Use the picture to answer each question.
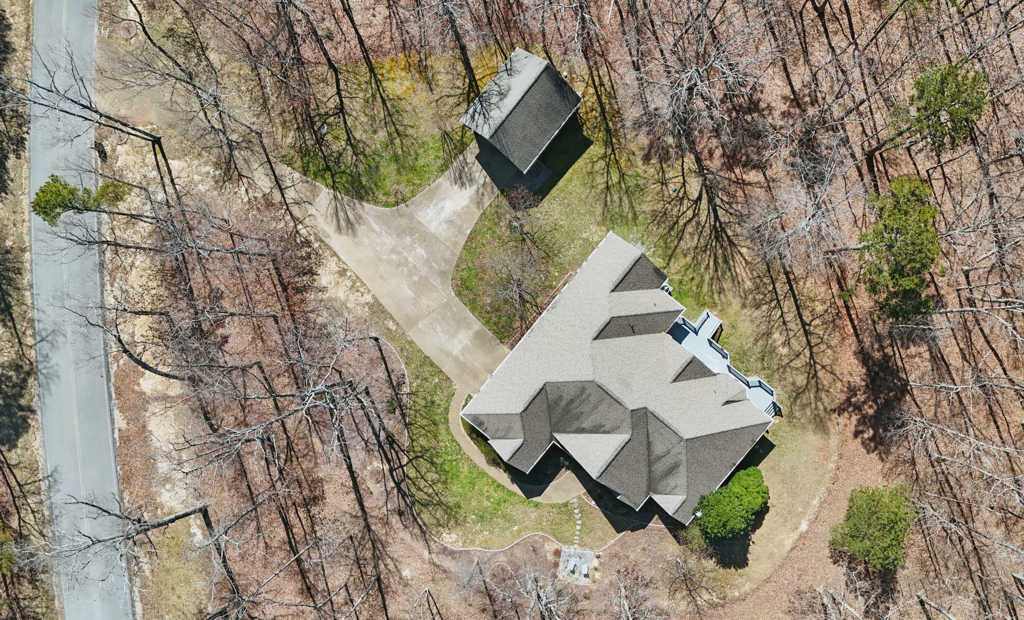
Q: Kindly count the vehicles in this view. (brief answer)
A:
0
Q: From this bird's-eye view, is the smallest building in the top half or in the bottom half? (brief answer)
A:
top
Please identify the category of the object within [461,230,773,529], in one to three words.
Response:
house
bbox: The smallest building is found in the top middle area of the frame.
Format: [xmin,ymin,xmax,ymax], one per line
[459,47,583,173]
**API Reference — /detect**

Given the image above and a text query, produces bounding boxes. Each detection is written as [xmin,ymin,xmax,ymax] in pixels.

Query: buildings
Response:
[459,47,583,173]
[461,230,773,529]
